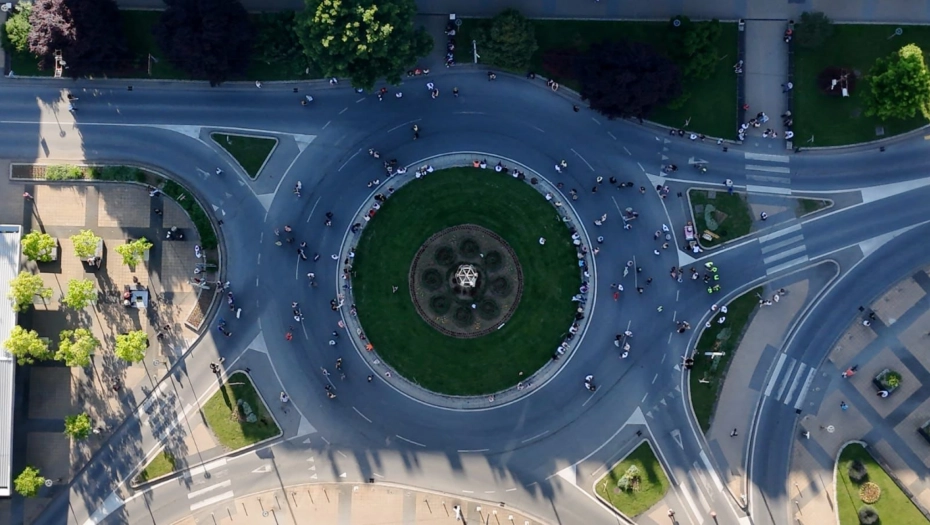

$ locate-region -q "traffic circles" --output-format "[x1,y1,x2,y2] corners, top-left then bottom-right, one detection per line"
[259,73,676,490]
